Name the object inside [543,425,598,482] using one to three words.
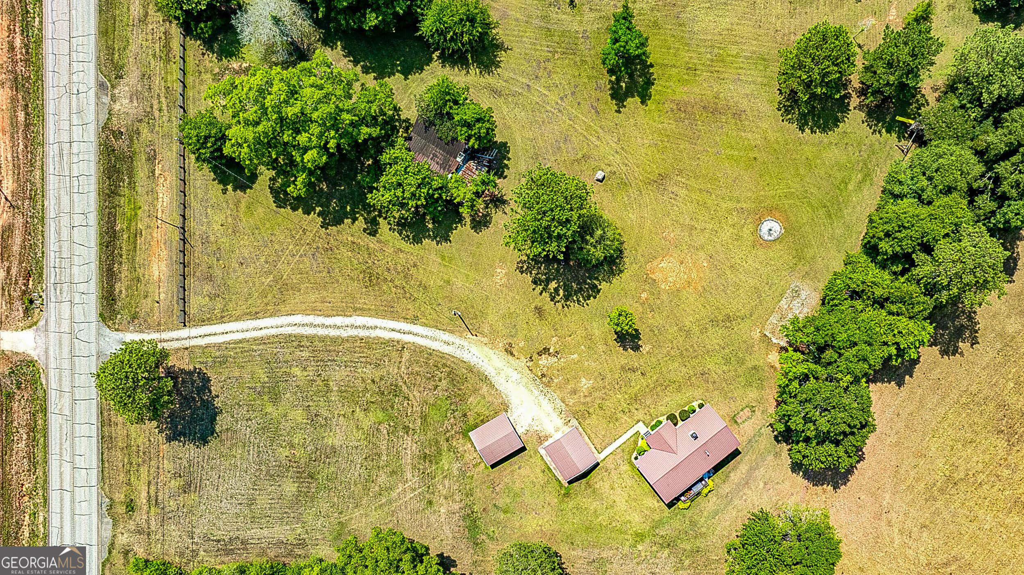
building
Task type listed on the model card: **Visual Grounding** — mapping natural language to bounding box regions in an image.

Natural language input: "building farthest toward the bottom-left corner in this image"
[468,411,524,467]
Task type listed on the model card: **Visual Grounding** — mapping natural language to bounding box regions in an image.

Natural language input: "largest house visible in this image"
[634,403,740,505]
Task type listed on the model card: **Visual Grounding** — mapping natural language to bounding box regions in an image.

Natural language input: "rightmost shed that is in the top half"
[457,146,501,179]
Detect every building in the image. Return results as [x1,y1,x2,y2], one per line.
[400,116,466,178]
[634,403,740,505]
[468,411,524,467]
[543,425,598,482]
